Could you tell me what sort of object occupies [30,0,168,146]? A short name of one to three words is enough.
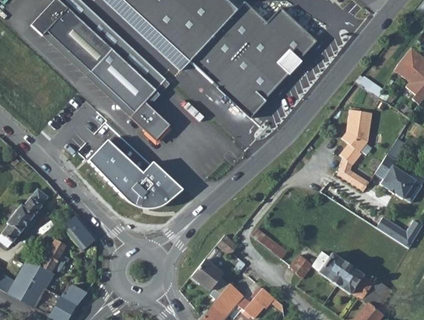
building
